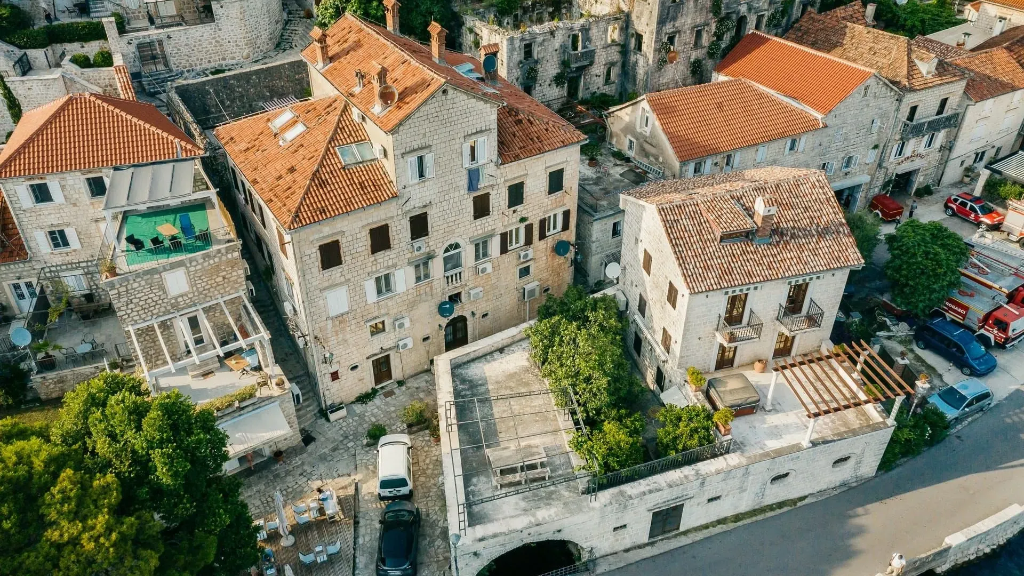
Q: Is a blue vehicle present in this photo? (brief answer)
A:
Yes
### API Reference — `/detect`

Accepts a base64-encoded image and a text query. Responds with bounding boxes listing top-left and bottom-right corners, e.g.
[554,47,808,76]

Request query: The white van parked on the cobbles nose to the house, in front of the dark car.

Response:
[378,429,418,497]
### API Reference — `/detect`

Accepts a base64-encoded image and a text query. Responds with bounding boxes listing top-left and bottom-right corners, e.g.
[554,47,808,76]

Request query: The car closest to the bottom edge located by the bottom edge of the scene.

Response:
[374,501,423,576]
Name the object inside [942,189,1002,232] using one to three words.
car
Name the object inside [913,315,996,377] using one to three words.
car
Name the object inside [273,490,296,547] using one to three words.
umbrella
